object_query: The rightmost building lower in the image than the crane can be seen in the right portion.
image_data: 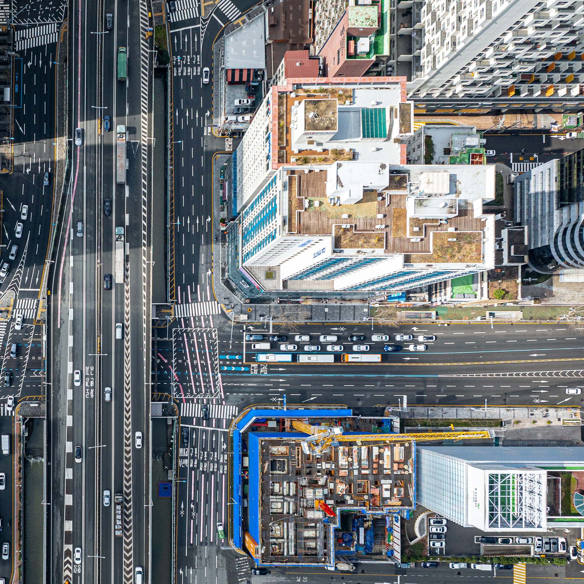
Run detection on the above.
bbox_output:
[417,447,584,531]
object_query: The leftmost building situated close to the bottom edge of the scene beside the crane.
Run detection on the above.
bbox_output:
[248,432,417,565]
